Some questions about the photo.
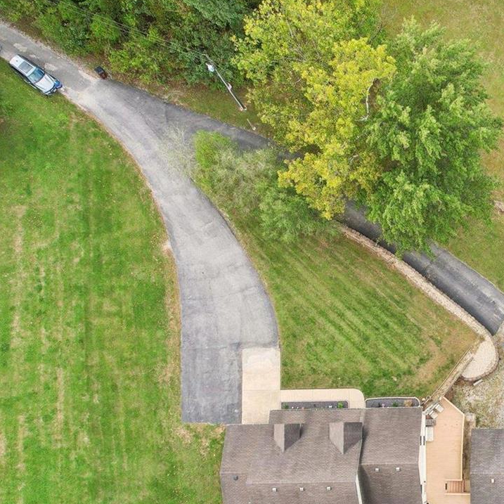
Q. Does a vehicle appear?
Yes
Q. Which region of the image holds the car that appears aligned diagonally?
top left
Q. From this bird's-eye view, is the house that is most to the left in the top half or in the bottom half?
bottom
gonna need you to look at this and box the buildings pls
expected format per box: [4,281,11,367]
[216,408,426,504]
[469,428,504,504]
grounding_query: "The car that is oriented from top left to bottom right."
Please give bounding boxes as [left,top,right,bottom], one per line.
[2,49,67,98]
